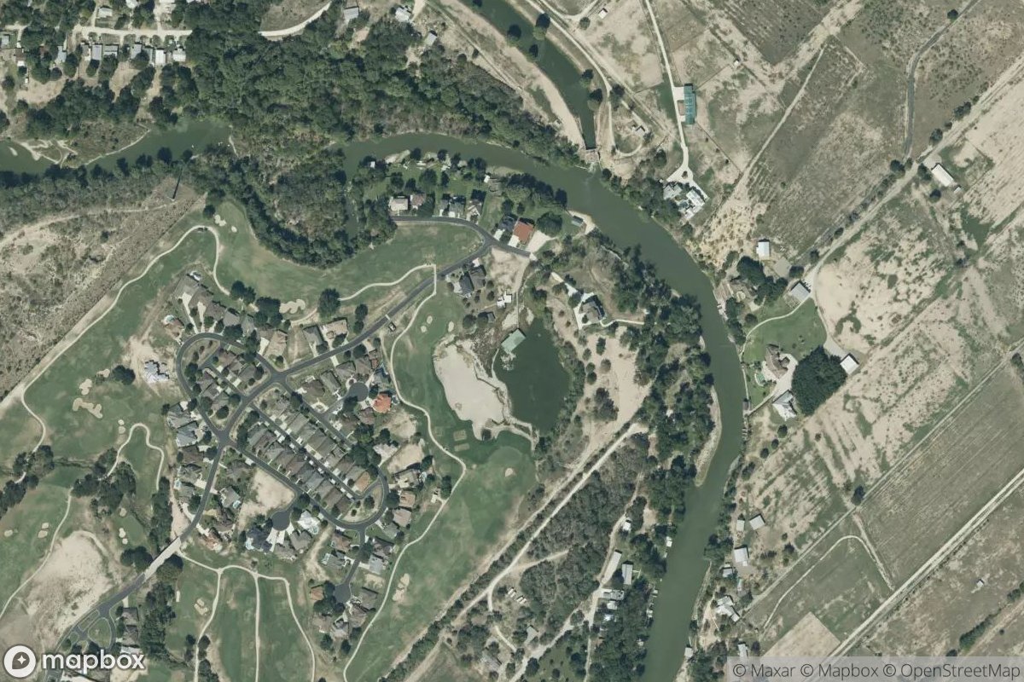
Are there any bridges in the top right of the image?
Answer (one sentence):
No, no bridge can be made out in the top right of the image.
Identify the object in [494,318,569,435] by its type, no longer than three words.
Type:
pond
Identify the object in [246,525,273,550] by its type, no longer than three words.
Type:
house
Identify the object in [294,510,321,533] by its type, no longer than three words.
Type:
house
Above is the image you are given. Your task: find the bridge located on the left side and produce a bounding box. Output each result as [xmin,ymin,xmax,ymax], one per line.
[139,538,184,580]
